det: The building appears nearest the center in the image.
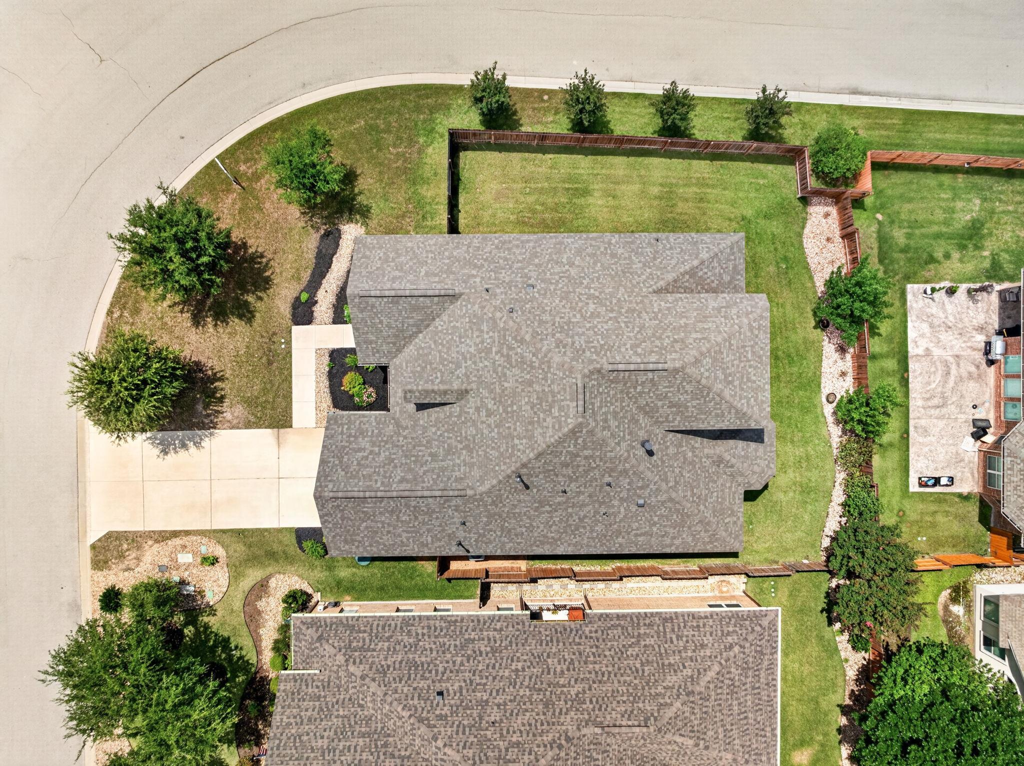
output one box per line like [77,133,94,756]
[314,230,776,557]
